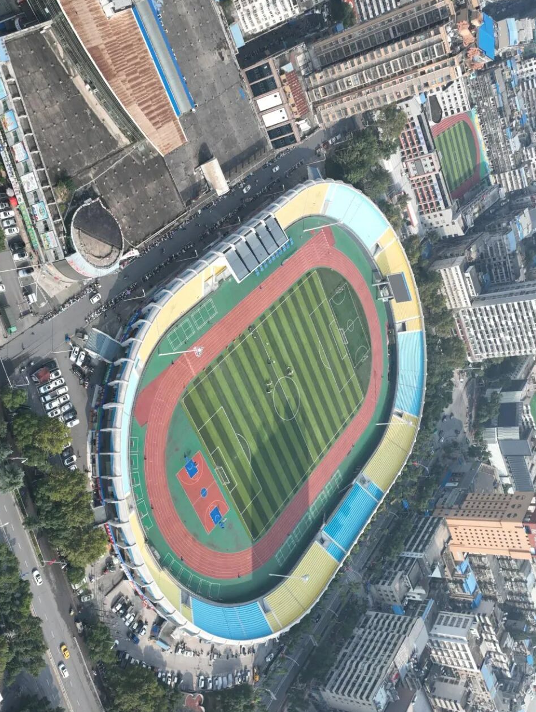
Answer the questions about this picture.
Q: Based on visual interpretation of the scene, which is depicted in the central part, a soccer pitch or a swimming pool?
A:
soccer pitch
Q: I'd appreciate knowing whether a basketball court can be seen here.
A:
Yes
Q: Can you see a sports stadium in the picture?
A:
Yes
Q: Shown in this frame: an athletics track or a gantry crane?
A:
athletics track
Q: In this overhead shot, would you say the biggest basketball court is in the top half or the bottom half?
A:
bottom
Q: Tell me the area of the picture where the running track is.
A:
center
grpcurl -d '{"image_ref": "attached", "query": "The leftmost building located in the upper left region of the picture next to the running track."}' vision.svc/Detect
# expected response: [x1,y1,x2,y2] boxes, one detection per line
[0,0,272,283]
